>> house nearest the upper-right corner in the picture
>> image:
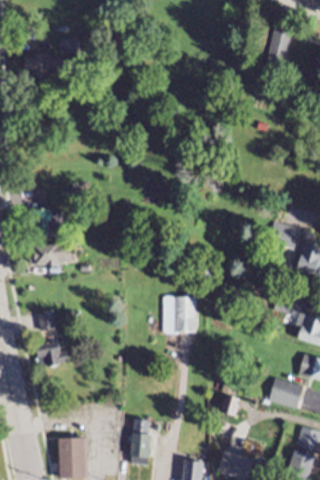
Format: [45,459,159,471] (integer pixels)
[268,28,290,60]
